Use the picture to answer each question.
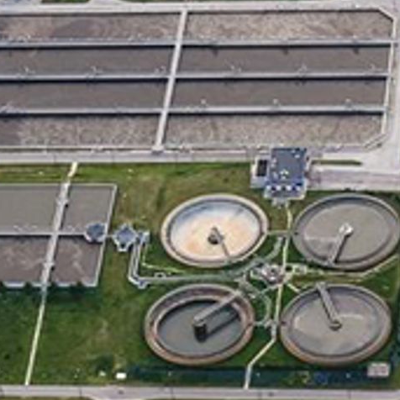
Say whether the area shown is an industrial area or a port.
industrial area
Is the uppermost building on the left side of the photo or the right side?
right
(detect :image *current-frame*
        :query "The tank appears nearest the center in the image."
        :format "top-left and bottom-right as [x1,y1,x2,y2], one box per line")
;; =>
[161,194,269,270]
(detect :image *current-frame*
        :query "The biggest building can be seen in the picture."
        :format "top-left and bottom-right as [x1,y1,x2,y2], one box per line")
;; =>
[266,148,308,206]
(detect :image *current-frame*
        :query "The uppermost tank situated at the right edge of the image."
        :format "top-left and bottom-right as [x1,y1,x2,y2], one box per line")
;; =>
[292,194,400,272]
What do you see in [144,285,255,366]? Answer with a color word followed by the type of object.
gray storage tank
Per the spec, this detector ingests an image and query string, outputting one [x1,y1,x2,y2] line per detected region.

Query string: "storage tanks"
[144,285,255,366]
[279,283,392,367]
[161,194,269,270]
[292,194,400,272]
